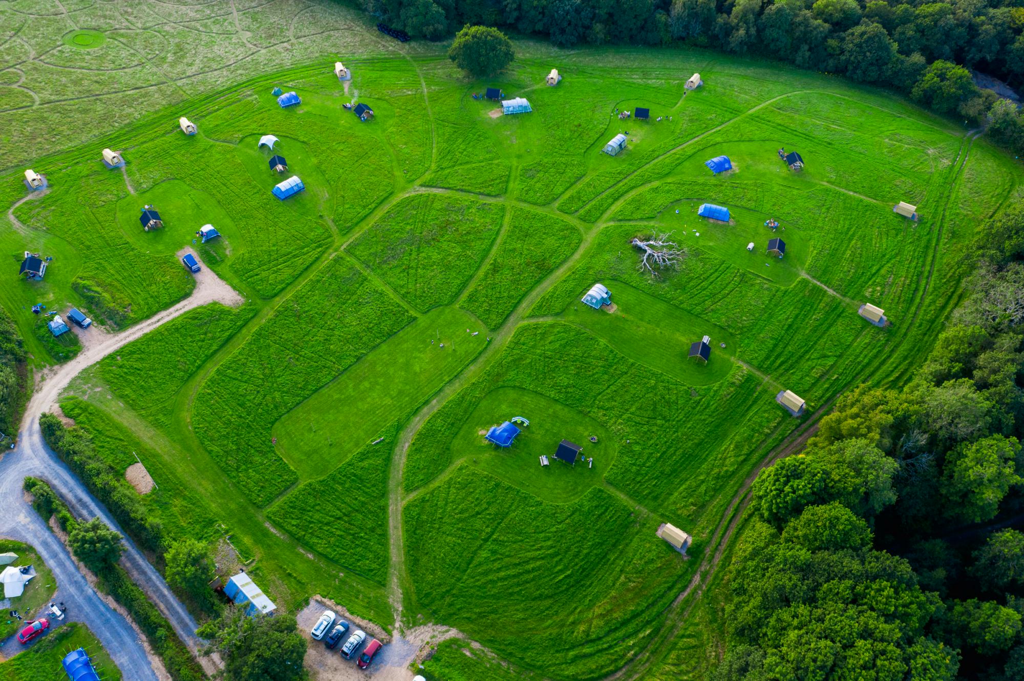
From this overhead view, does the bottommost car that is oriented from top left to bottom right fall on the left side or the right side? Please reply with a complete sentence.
The bottommost car that is oriented from top left to bottom right appears in the left half of the scene.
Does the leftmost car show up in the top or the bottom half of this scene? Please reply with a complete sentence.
It is in the bottom half that the leftmost car appears.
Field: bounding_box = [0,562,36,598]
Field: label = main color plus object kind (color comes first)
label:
white tent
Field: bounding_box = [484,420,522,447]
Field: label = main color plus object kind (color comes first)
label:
blue tent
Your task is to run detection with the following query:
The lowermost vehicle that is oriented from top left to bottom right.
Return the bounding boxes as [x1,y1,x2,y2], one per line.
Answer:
[66,308,92,329]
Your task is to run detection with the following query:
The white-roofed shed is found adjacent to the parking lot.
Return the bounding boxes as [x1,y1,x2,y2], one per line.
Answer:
[223,573,280,619]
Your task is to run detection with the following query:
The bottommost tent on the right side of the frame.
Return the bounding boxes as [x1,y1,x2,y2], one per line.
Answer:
[659,522,689,552]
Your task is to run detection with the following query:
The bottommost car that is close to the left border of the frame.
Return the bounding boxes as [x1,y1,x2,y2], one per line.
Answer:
[16,619,53,647]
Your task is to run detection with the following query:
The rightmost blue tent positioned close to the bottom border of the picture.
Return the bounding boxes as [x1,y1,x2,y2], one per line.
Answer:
[55,643,116,681]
